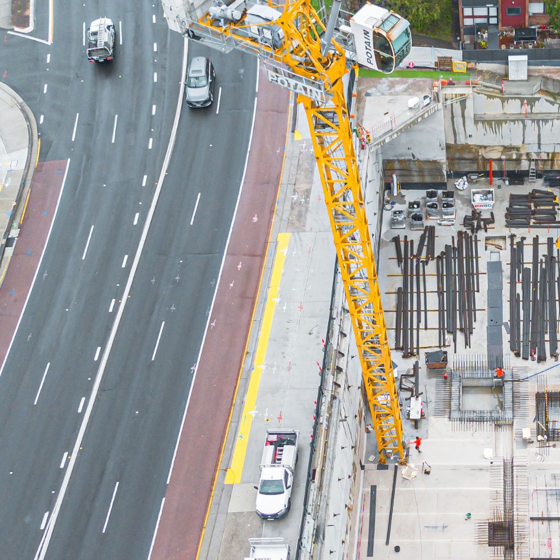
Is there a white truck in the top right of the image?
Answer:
No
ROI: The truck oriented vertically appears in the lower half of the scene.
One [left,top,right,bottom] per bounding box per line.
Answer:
[250,428,295,523]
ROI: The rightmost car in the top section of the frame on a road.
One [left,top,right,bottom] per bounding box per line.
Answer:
[180,57,213,106]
